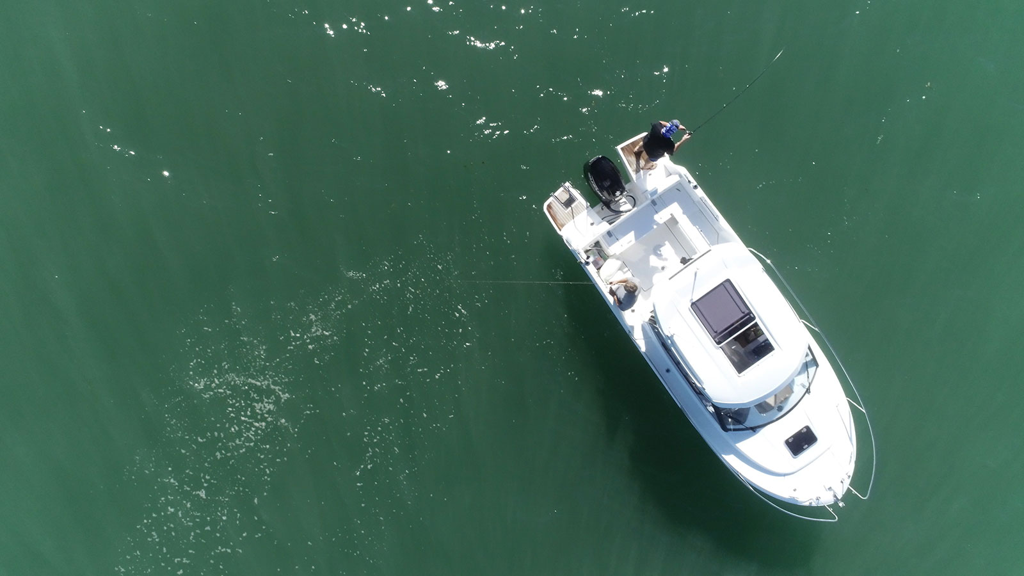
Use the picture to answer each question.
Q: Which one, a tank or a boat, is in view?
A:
boat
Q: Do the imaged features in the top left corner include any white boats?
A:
No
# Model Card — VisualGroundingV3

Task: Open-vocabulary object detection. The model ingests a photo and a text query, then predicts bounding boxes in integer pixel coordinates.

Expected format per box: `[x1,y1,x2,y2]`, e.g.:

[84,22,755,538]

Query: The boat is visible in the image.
[546,134,881,519]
